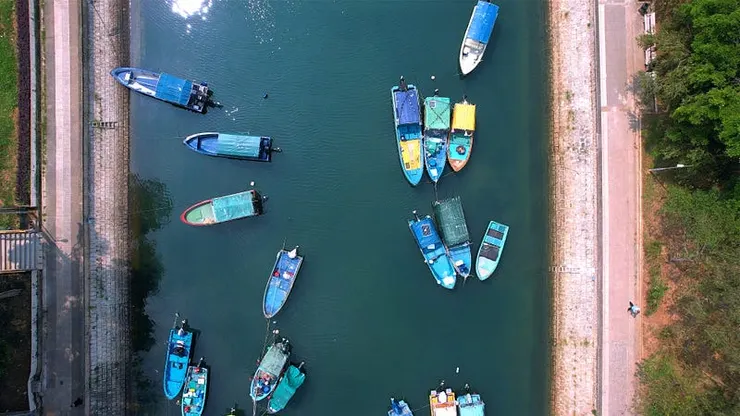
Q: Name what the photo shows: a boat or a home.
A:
boat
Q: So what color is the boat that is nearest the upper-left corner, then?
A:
blue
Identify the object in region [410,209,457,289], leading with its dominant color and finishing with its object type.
blue boat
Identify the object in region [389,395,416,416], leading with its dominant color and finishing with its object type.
blue boat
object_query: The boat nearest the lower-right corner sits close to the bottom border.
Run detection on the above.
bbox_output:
[457,386,484,416]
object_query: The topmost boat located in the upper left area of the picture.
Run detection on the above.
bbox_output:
[111,71,223,110]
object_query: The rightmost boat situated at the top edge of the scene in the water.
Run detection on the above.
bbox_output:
[460,0,501,77]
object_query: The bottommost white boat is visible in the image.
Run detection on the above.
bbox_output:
[430,379,457,416]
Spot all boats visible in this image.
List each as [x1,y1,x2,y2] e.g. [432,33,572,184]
[447,97,475,172]
[184,134,284,160]
[460,0,501,77]
[389,395,416,416]
[111,71,223,110]
[392,78,424,186]
[181,190,267,224]
[477,221,509,281]
[433,194,472,278]
[410,209,457,289]
[424,89,450,182]
[248,338,293,402]
[264,249,302,317]
[165,313,192,399]
[430,379,457,416]
[457,386,484,416]
[270,360,307,413]
[185,358,209,416]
